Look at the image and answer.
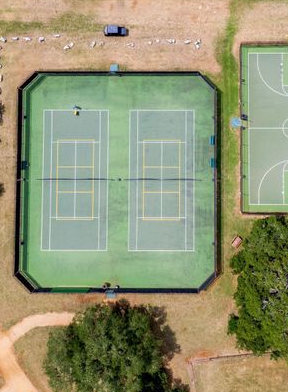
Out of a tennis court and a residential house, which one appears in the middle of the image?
tennis court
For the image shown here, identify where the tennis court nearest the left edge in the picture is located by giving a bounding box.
[41,109,109,251]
